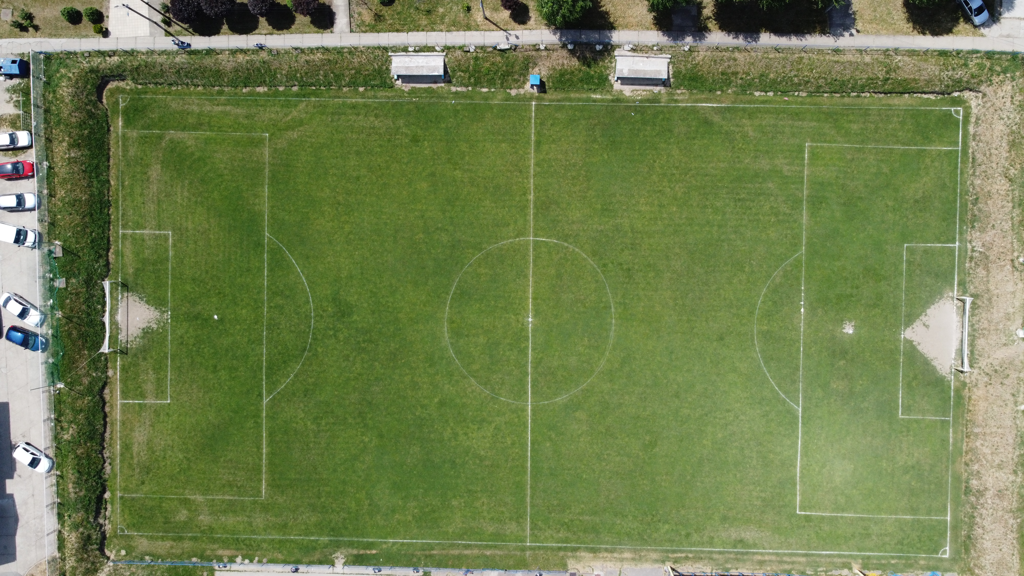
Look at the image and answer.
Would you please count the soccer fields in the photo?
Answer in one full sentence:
I count just 1 soccer field.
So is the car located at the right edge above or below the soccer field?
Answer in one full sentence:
The car located at the right edge is above the soccer field.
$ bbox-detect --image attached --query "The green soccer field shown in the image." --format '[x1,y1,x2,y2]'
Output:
[110,82,972,566]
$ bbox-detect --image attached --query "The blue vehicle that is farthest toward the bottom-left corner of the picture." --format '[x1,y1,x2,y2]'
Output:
[6,325,50,351]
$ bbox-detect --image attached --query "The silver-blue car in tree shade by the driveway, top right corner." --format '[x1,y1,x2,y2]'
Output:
[954,0,987,26]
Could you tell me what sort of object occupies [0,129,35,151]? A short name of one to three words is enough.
car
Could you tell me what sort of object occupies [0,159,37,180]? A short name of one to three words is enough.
car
